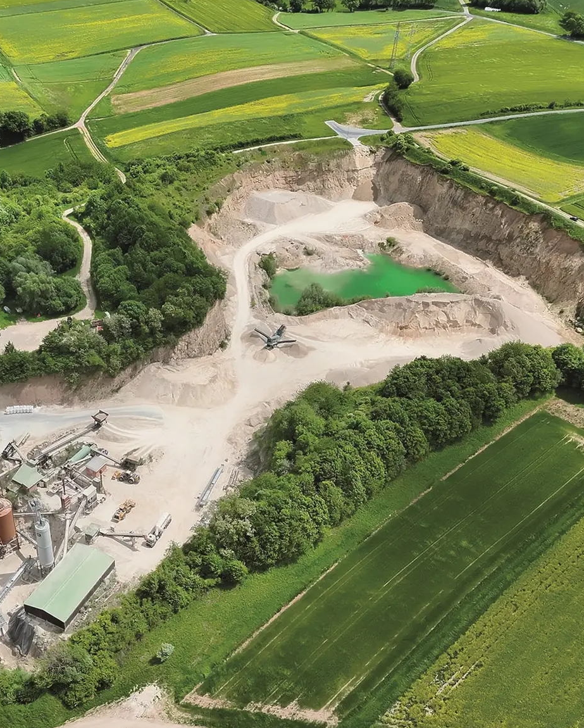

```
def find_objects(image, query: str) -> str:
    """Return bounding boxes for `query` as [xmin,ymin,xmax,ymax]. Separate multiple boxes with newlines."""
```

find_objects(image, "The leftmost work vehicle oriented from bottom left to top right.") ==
[109,496,135,524]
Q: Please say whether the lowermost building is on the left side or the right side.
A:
left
